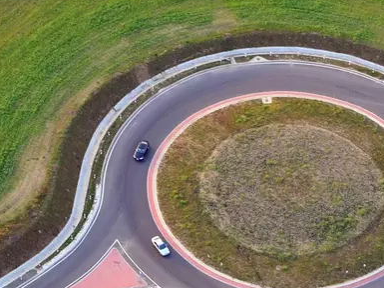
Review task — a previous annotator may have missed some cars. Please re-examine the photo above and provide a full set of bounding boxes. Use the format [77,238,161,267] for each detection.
[151,233,170,256]
[135,139,151,158]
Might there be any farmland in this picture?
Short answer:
Yes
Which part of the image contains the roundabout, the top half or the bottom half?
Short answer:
bottom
